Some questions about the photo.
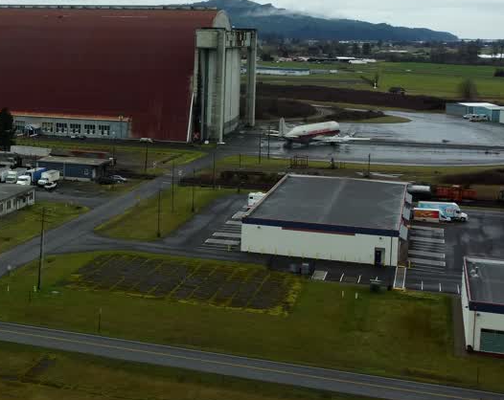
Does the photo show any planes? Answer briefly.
Yes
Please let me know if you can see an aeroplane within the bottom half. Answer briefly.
No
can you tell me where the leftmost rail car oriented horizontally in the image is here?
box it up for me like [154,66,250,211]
[408,184,449,201]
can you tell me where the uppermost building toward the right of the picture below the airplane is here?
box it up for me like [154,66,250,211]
[239,174,414,267]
